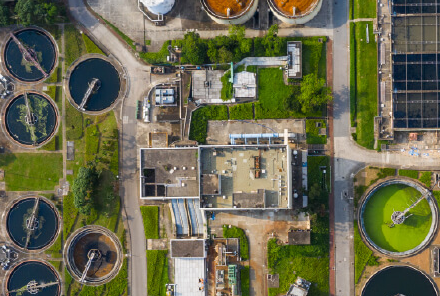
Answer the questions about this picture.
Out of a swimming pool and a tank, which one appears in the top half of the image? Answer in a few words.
tank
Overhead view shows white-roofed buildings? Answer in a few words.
Yes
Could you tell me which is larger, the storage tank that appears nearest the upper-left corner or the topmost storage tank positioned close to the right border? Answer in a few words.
the topmost storage tank positioned close to the right border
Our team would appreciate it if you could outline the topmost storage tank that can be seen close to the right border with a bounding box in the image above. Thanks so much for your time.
[357,176,439,259]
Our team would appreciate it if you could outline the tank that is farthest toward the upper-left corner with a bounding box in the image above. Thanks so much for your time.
[3,27,60,83]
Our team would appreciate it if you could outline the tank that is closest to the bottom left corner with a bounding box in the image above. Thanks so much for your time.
[6,259,62,296]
